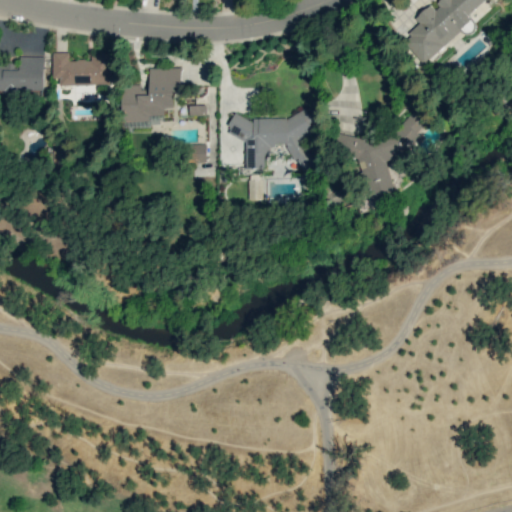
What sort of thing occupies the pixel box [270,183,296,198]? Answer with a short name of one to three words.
swimming pool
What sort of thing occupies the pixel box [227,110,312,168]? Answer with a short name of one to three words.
house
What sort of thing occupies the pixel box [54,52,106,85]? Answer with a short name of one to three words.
house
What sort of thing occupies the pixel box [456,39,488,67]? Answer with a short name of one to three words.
swimming pool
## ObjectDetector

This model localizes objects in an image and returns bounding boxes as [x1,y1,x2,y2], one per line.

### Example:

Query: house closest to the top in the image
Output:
[404,0,485,61]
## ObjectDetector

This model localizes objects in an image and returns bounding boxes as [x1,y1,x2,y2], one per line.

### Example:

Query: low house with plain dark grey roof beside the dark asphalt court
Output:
[0,57,44,95]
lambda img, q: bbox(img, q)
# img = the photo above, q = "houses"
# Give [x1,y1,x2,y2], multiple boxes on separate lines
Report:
[227,110,312,168]
[120,67,182,123]
[404,0,485,61]
[0,57,44,95]
[338,114,424,196]
[54,52,106,85]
